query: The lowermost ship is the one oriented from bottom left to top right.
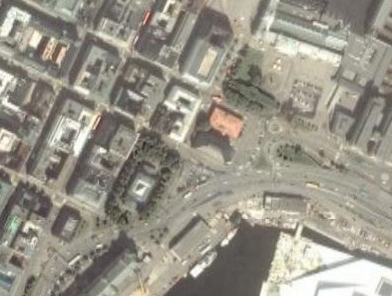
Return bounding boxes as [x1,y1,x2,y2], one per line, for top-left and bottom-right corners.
[188,253,216,279]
